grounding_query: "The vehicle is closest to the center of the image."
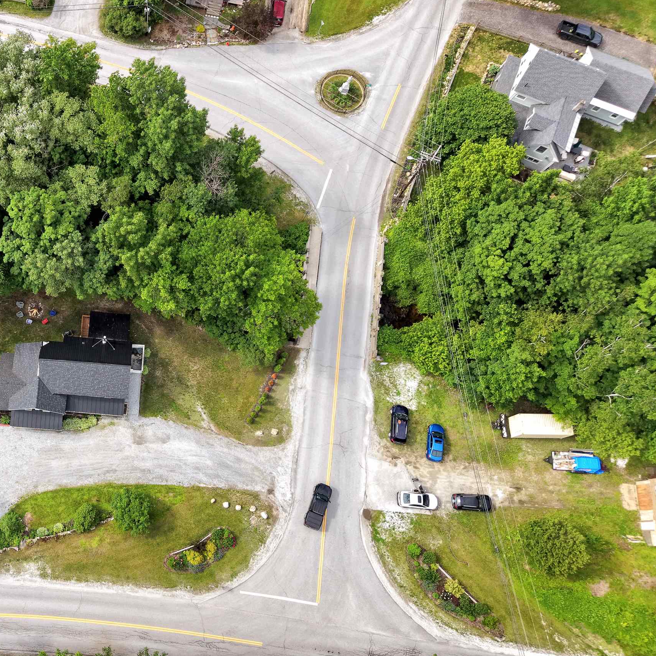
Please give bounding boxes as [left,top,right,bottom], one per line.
[388,406,410,445]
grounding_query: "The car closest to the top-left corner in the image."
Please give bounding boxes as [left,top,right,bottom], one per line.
[271,0,286,22]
